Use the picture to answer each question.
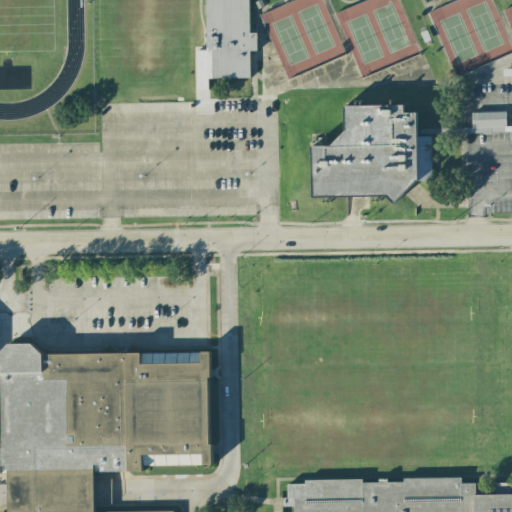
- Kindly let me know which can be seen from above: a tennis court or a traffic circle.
tennis court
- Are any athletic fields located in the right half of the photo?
Yes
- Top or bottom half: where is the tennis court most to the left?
top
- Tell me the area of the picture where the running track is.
top left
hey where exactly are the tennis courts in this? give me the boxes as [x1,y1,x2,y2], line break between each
[290,0,346,66]
[364,0,420,64]
[336,2,392,77]
[262,3,318,78]
[430,1,486,76]
[458,0,512,64]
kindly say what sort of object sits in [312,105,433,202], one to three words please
building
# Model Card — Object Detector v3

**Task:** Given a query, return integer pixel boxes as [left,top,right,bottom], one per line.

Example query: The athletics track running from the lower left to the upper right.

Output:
[0,0,86,120]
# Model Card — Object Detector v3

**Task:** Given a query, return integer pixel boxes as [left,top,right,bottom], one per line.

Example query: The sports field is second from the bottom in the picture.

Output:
[241,260,512,368]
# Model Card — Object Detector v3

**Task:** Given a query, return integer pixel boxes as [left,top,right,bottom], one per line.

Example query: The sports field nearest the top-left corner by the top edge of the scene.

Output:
[0,0,56,52]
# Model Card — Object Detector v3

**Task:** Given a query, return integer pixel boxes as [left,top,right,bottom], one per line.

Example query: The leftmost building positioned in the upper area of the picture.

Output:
[206,0,259,78]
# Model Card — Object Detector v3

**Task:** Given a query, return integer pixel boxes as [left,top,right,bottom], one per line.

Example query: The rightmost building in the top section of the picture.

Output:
[472,112,508,134]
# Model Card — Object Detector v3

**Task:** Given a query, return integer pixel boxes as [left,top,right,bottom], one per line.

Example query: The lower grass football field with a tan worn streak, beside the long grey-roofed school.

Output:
[241,368,512,474]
